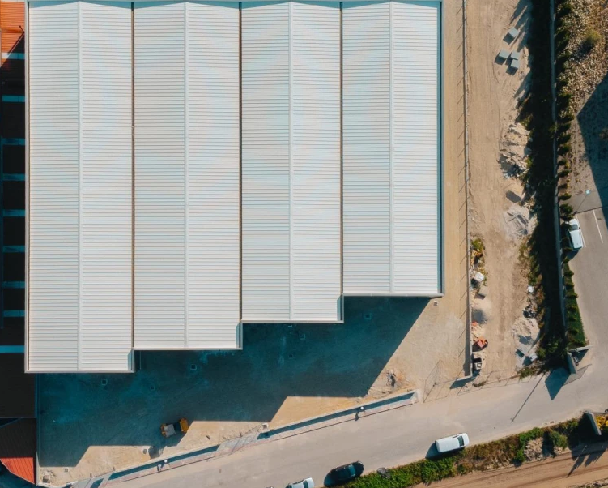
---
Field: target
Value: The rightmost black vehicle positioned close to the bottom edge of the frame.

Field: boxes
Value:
[326,462,364,485]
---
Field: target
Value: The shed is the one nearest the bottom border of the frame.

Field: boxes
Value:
[0,417,38,484]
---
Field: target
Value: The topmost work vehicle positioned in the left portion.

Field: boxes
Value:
[162,415,191,436]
